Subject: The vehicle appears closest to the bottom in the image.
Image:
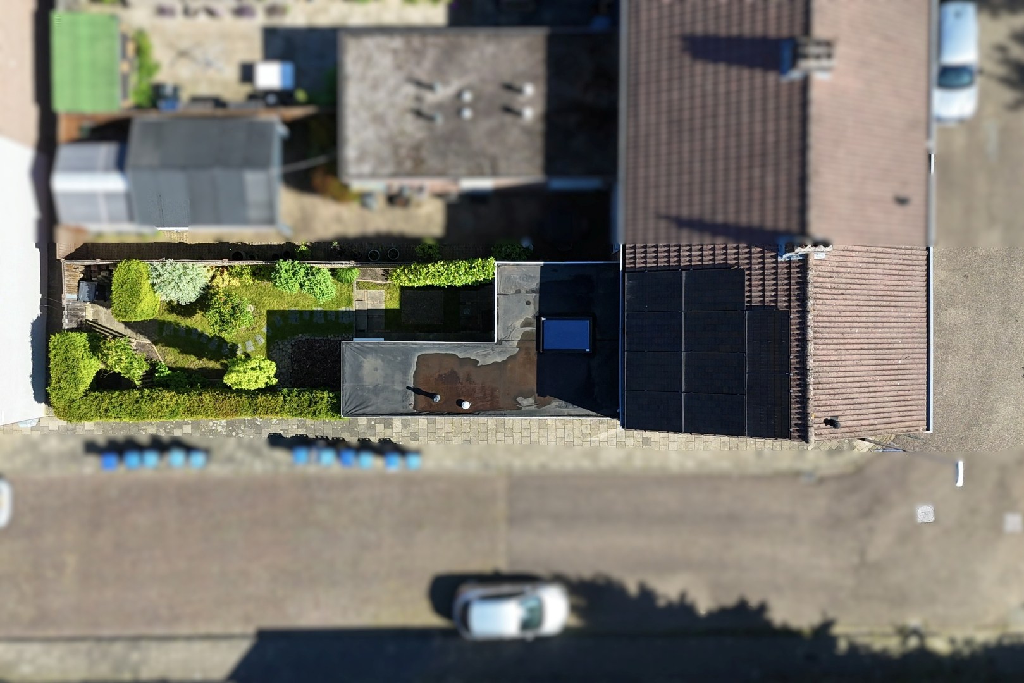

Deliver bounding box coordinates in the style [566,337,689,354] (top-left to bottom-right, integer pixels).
[454,579,570,642]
